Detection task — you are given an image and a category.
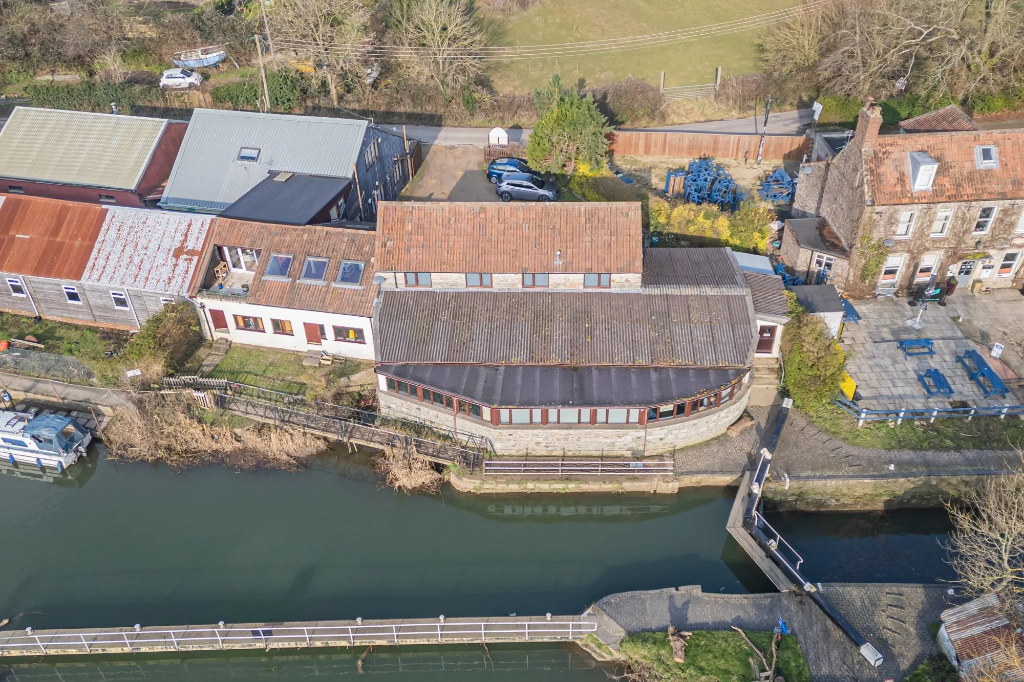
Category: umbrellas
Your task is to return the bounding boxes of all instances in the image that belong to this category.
[904,280,931,329]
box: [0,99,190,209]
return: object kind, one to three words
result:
building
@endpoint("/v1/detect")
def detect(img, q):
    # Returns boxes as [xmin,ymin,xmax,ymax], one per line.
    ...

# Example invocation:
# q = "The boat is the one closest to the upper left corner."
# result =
[155,44,229,65]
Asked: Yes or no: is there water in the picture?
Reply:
Yes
